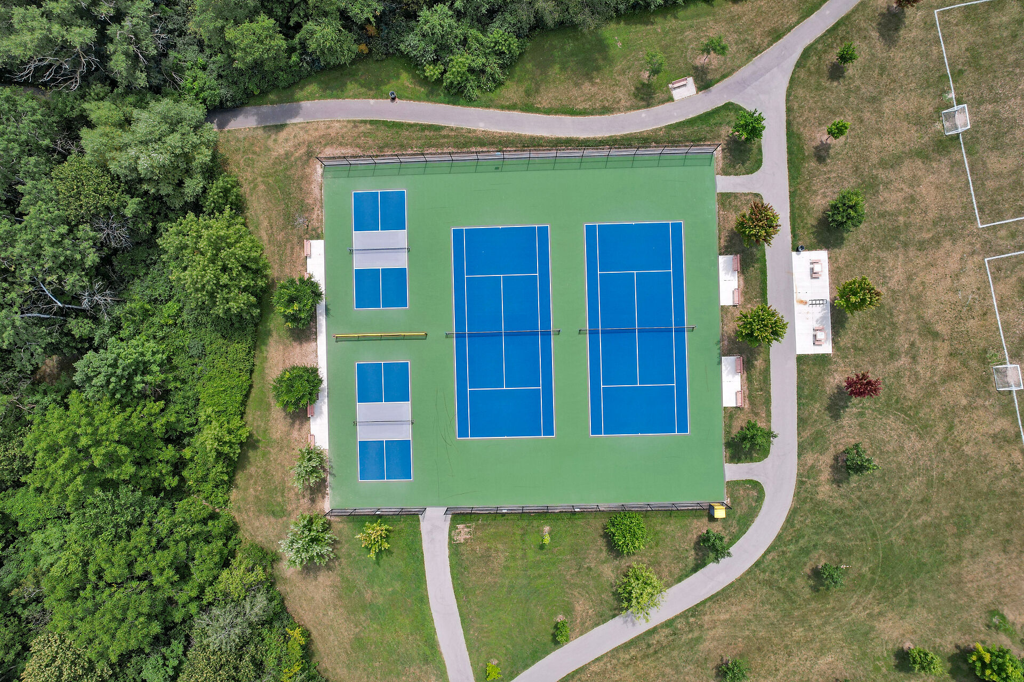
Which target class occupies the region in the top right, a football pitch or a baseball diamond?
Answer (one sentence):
What appears in the top right is a football pitch.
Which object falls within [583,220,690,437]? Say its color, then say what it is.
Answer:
blue tennis court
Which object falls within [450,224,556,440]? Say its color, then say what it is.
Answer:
blue tennis court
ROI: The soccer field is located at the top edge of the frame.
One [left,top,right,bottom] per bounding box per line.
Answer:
[935,0,1024,227]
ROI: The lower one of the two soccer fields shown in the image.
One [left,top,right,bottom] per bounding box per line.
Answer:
[986,251,1024,445]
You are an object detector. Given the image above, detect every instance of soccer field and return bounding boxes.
[986,251,1024,445]
[935,0,1024,227]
